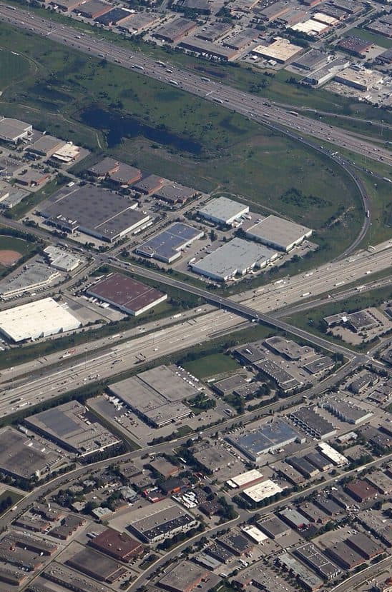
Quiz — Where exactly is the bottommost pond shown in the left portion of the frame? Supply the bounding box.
[78,108,201,154]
